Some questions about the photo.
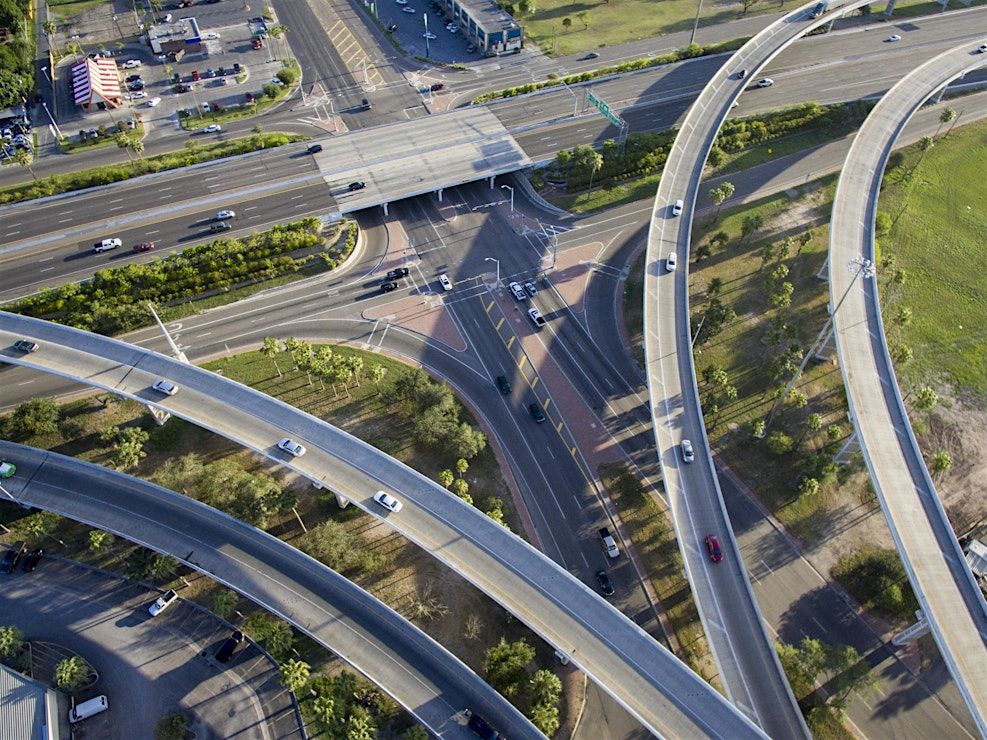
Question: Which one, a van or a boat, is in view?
van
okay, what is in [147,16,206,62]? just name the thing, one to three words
building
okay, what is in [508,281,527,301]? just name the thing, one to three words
vehicle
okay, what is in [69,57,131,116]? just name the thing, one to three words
building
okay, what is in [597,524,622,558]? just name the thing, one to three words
truck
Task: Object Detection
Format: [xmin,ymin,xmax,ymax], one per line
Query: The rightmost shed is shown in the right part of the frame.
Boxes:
[958,535,987,589]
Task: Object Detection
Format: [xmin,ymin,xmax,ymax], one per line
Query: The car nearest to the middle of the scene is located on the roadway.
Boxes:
[495,374,512,394]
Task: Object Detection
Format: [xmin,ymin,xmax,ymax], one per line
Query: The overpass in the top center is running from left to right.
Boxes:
[305,106,536,222]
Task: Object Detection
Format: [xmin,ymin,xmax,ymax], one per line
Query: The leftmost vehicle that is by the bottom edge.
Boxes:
[67,694,108,723]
